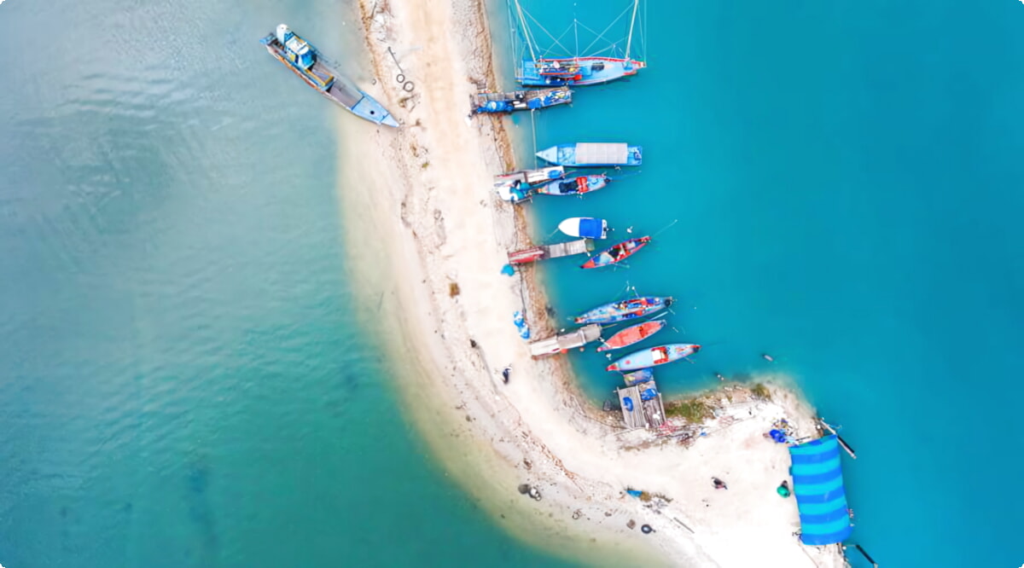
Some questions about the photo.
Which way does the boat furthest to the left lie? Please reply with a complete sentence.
Seen from above, the boat furthest to the left lies at an angle.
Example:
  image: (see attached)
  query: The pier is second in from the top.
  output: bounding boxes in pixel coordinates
[494,165,565,185]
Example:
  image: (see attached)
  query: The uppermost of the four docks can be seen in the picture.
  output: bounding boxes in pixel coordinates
[473,85,575,114]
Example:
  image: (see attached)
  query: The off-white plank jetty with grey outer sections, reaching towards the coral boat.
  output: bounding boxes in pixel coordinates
[530,323,602,355]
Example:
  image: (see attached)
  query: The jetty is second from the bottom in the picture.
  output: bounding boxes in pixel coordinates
[510,239,588,263]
